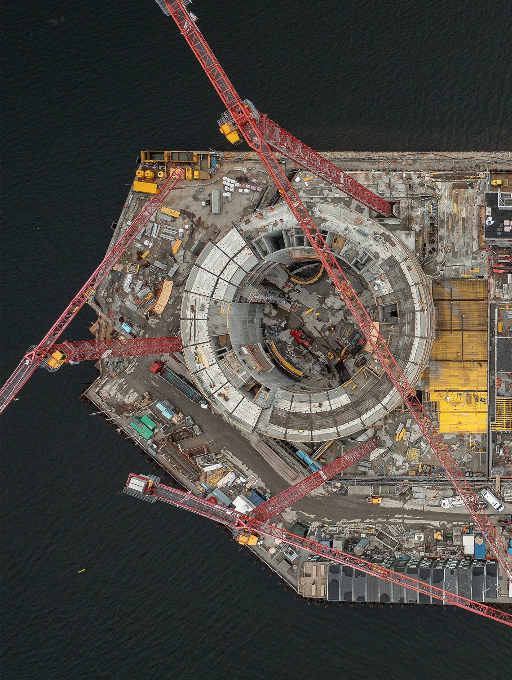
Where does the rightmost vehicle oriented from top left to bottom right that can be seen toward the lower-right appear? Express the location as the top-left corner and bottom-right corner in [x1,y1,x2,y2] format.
[480,488,504,513]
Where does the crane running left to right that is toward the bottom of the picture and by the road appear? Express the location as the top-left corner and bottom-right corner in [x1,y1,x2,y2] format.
[123,424,512,628]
